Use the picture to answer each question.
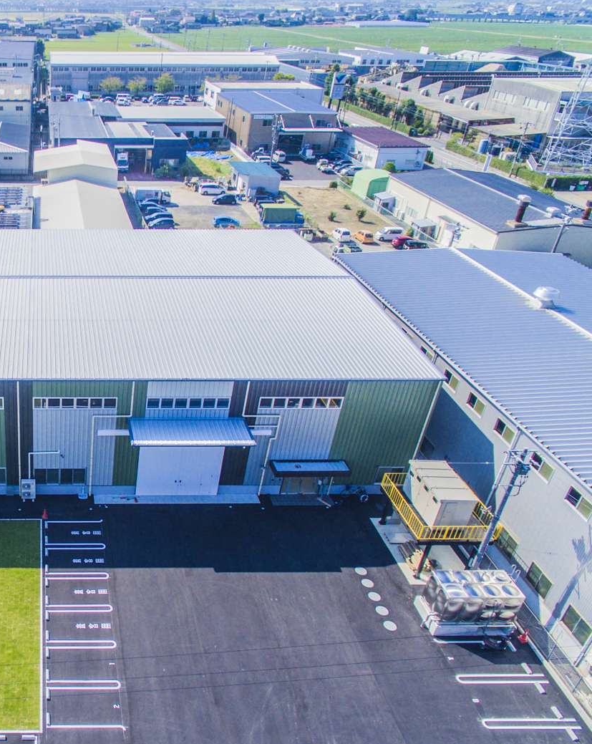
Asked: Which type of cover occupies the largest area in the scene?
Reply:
buildings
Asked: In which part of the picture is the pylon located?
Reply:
top right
